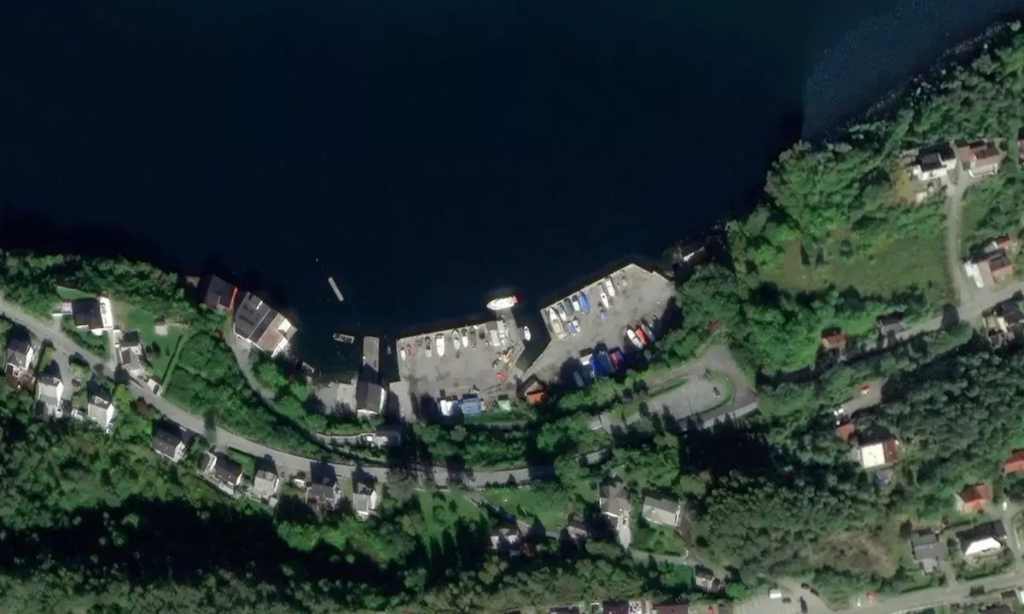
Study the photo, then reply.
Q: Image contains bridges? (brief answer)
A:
No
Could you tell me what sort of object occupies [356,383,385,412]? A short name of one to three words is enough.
building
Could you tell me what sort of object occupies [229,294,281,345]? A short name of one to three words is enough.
building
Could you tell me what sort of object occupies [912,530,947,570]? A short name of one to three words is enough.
house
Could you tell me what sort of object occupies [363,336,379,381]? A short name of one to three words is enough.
pier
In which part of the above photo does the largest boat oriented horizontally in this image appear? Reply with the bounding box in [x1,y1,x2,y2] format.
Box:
[487,296,517,309]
